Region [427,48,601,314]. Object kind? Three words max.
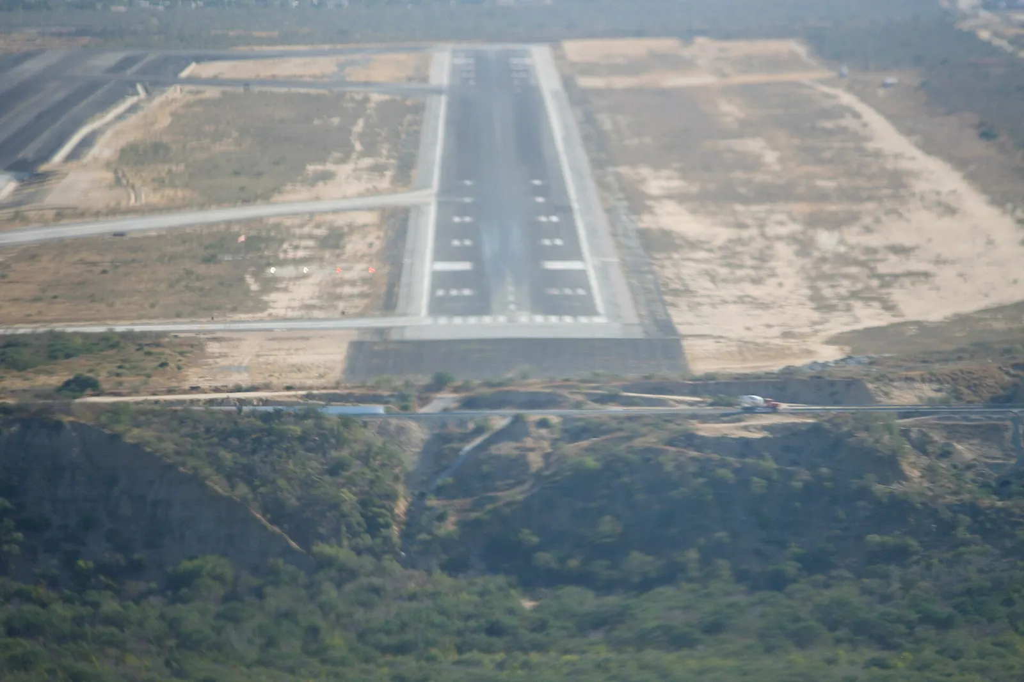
runway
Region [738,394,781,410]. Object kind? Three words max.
vehicle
